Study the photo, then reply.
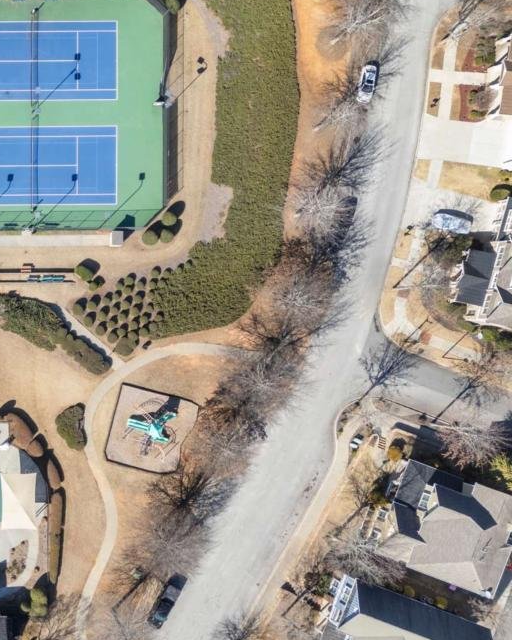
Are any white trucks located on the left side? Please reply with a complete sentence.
No, there's no white truck to be seen on the left side.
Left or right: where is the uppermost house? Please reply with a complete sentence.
You can find the uppermost house on the right side of the picture.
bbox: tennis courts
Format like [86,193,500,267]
[0,113,164,230]
[0,0,164,114]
